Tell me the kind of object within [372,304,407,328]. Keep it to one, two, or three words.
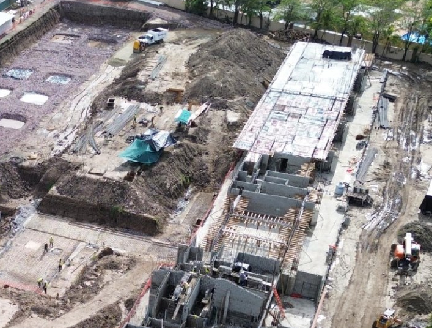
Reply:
work vehicle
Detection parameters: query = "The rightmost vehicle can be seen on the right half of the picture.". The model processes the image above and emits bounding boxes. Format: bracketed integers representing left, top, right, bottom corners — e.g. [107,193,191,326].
[393,229,423,278]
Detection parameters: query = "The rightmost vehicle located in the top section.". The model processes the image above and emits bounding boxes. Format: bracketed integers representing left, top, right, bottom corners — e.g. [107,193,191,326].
[138,28,179,46]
